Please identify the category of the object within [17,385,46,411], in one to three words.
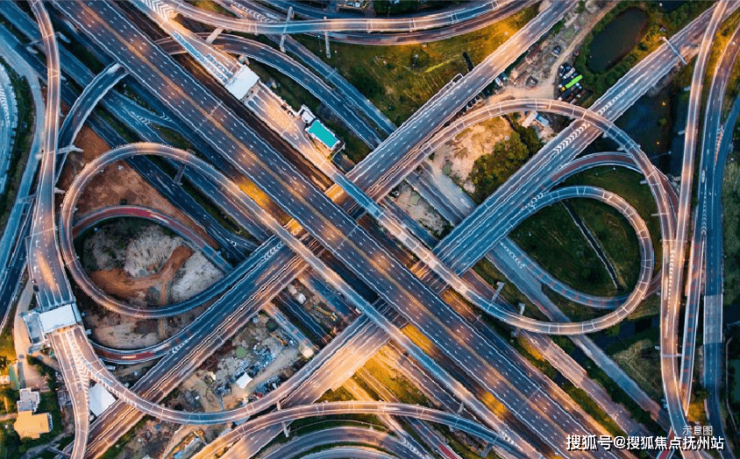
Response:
house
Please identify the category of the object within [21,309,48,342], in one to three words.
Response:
building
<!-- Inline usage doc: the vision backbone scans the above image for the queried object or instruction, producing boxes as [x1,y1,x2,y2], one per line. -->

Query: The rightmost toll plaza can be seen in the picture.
[223,63,265,105]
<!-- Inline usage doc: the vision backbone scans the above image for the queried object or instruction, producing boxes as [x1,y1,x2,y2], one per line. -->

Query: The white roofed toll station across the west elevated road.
[37,297,81,338]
